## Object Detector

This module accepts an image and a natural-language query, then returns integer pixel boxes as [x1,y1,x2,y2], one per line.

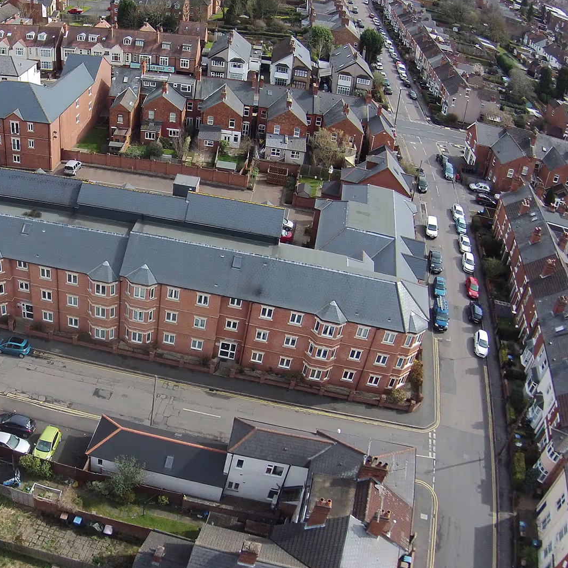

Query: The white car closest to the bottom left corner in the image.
[0,428,34,453]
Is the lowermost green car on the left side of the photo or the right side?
left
